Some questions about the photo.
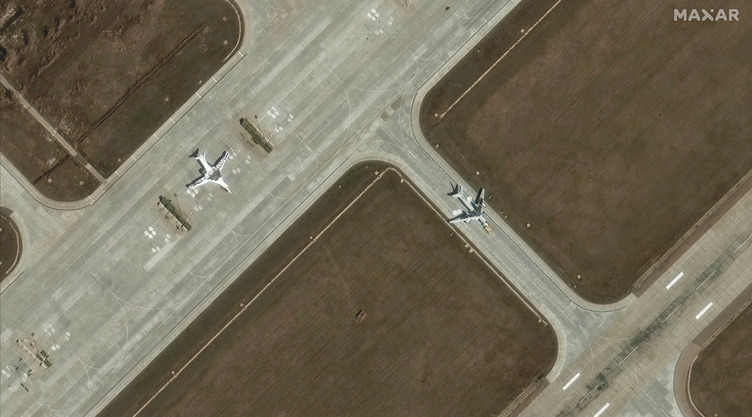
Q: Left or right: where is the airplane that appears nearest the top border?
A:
left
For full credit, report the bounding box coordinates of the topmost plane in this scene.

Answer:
[189,152,233,194]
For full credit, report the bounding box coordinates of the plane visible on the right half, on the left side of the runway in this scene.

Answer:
[449,188,489,225]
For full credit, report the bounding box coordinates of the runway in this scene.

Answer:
[514,187,752,417]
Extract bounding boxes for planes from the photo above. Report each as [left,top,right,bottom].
[189,152,233,194]
[449,188,489,225]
